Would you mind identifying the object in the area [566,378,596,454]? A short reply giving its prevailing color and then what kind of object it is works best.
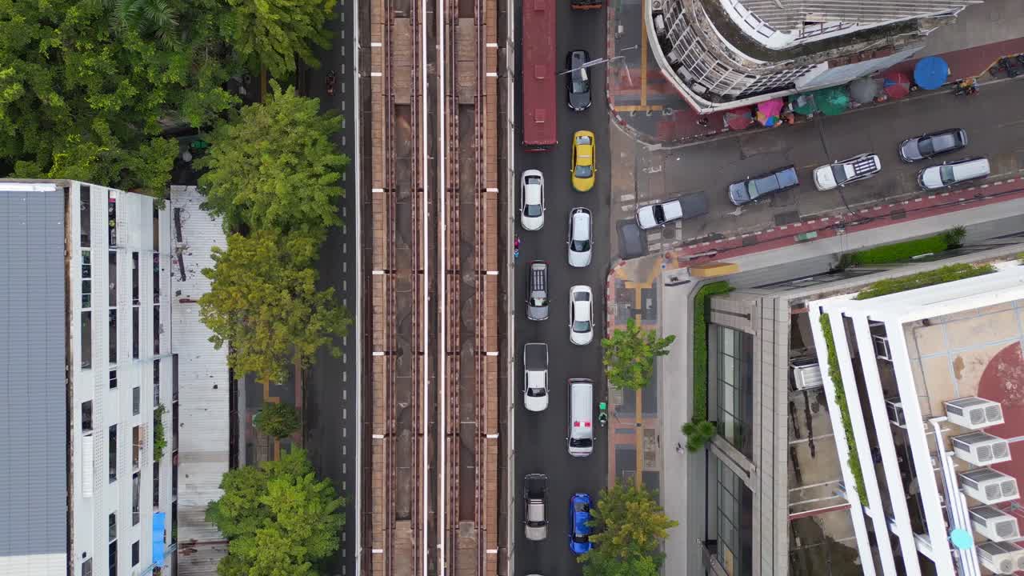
white van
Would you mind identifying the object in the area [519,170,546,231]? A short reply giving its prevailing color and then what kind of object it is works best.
white car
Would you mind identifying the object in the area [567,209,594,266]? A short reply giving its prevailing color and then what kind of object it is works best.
white car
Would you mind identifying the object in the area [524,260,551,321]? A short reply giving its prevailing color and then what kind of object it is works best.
gray truck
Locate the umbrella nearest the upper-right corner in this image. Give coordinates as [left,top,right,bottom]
[909,56,946,93]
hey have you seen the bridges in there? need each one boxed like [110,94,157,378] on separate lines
[354,0,513,576]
